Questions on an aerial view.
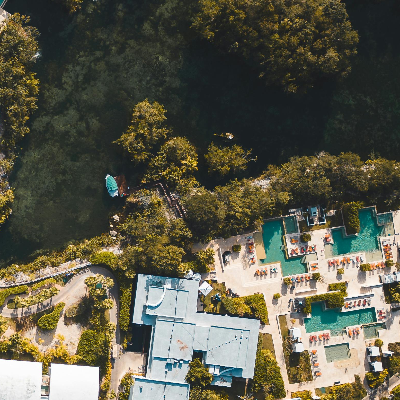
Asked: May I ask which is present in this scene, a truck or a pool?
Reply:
pool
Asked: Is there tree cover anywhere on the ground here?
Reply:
Yes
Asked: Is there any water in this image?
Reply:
Yes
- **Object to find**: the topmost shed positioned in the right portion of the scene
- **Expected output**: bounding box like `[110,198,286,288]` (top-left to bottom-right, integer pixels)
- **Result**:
[306,205,324,226]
